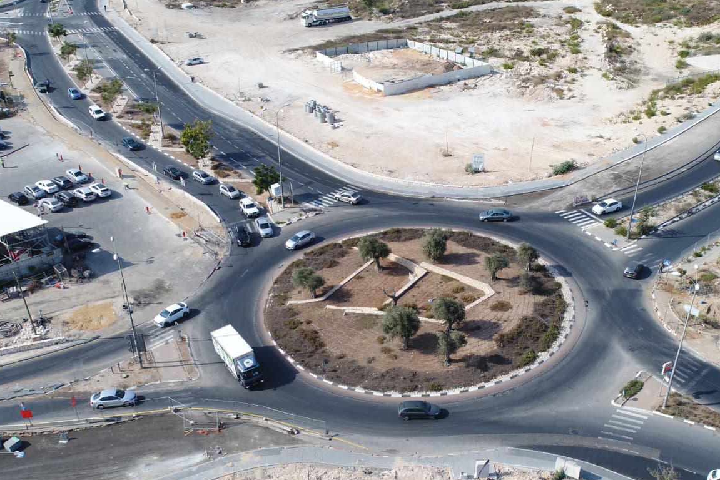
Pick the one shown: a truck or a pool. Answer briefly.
truck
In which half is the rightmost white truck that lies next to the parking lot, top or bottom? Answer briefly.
bottom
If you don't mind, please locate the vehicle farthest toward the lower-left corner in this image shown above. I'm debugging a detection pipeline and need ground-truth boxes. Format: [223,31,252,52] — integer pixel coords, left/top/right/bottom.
[89,388,137,410]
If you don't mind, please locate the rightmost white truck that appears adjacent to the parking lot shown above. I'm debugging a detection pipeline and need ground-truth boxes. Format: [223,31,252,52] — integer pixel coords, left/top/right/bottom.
[211,317,263,386]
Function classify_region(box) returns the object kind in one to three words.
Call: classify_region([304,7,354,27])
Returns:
vehicle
